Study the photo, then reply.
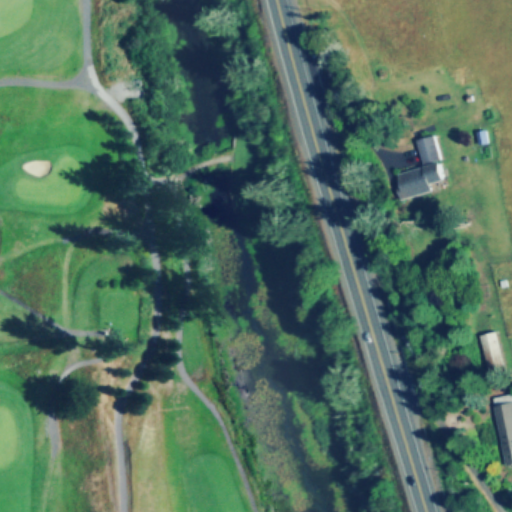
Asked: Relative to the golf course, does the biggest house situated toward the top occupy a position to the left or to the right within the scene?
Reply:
to the right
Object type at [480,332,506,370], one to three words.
barn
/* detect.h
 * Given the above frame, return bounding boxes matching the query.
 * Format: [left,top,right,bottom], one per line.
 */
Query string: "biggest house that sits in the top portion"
[395,135,448,200]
